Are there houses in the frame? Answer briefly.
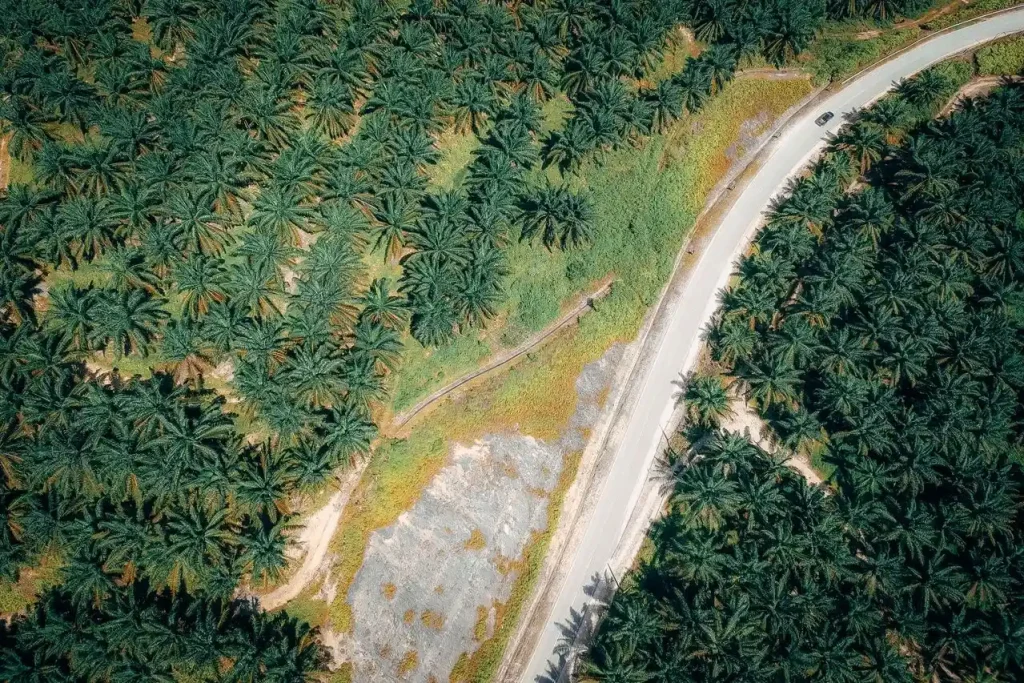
No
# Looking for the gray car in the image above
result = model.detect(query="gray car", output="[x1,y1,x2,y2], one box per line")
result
[817,109,836,126]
